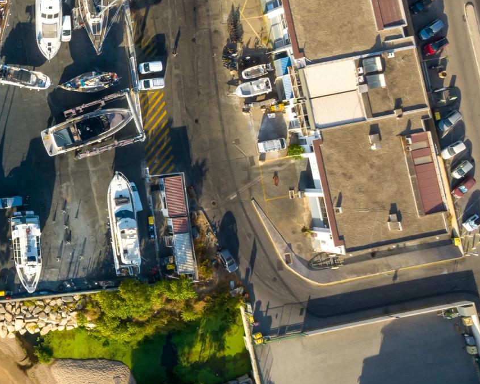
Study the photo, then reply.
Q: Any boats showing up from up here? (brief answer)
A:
Yes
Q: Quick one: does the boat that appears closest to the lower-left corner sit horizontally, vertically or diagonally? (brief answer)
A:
vertically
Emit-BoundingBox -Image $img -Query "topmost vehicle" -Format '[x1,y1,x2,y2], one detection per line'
[408,0,433,15]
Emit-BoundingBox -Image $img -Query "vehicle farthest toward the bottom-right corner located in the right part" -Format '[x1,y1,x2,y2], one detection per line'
[461,214,480,231]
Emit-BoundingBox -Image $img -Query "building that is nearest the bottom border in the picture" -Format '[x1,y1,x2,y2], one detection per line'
[168,232,194,274]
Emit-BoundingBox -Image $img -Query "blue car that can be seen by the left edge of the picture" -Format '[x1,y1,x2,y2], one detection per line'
[0,195,24,209]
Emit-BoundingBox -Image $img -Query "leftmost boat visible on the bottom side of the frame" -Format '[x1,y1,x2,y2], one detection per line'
[11,211,44,295]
